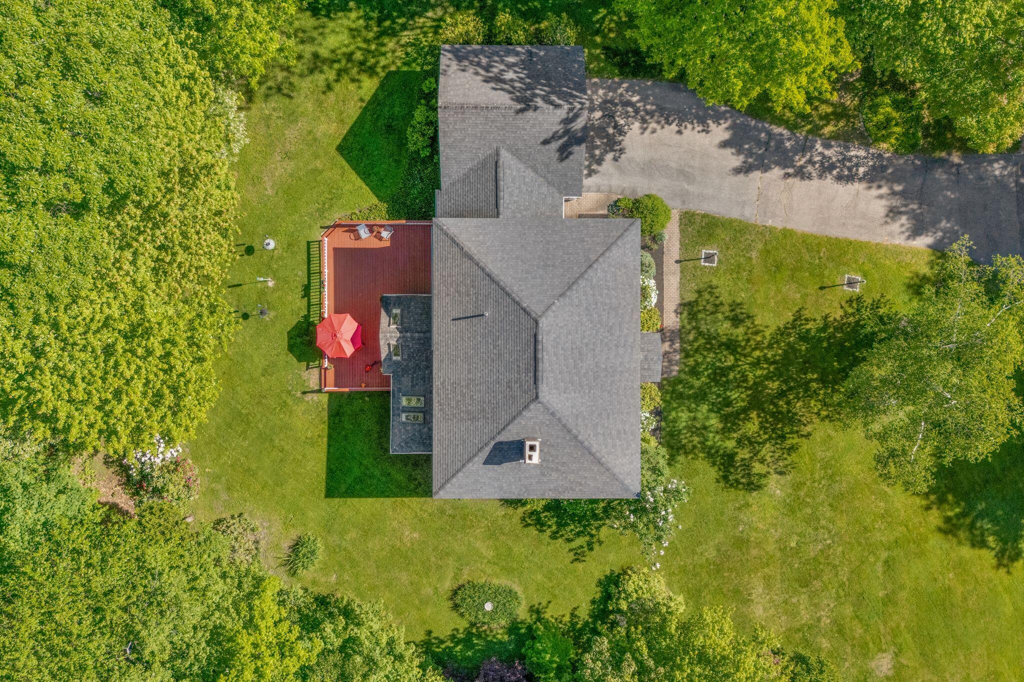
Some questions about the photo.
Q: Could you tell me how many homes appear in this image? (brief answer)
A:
one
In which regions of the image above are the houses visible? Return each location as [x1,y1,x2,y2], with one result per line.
[379,45,663,500]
